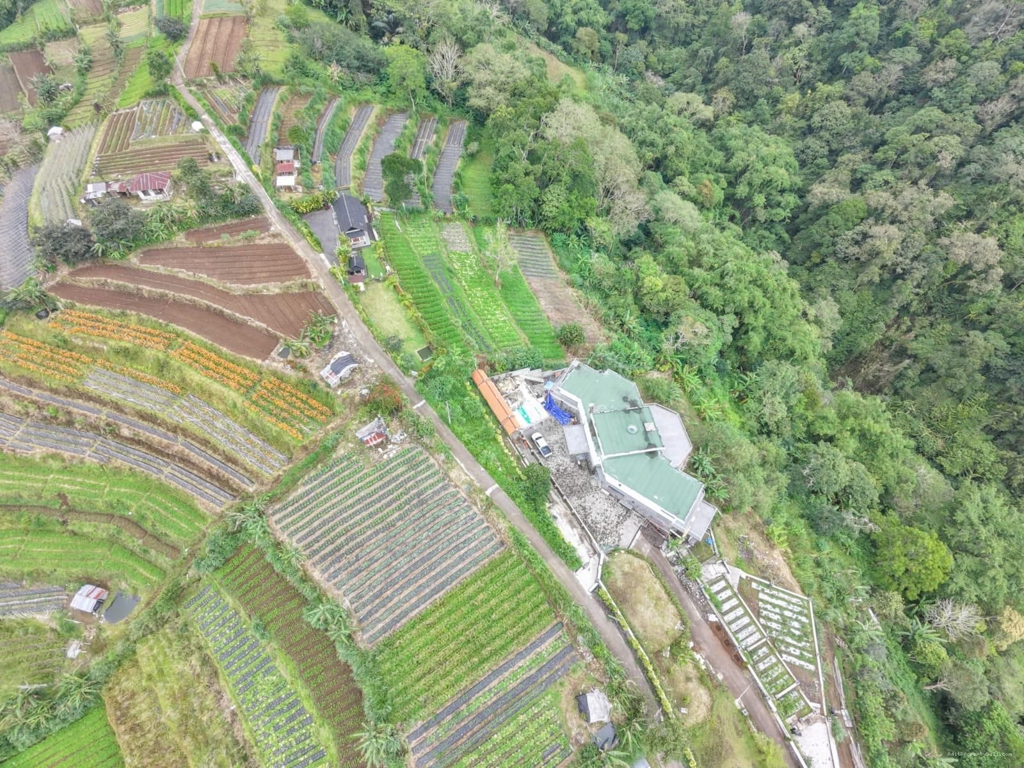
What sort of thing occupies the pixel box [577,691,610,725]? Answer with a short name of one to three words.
shed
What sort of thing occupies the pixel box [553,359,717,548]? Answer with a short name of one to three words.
house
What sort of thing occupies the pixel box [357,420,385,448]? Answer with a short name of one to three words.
shed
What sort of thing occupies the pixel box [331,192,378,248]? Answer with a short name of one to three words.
house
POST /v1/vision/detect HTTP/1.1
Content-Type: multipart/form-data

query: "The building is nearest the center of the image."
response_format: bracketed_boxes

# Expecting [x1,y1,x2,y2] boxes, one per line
[472,371,521,440]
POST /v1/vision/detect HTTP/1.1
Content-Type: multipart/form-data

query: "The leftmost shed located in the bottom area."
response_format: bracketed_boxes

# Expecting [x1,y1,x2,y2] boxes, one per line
[70,583,107,619]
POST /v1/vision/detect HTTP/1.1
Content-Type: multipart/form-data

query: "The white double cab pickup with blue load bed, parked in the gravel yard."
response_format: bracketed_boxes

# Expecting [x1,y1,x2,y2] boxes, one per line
[529,429,554,459]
